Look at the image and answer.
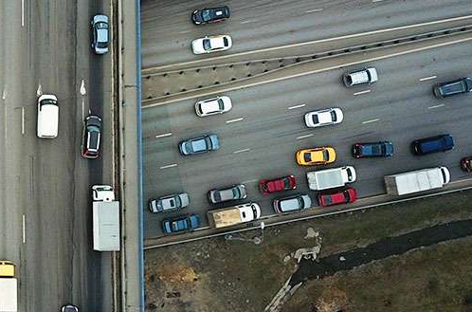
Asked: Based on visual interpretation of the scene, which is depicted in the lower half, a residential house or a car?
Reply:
car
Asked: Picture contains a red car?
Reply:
Yes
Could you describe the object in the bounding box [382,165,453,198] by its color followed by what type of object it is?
white van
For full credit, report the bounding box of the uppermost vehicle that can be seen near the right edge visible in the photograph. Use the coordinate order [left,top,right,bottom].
[430,76,472,100]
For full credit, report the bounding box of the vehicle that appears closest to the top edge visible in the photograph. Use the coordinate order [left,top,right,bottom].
[191,7,230,26]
